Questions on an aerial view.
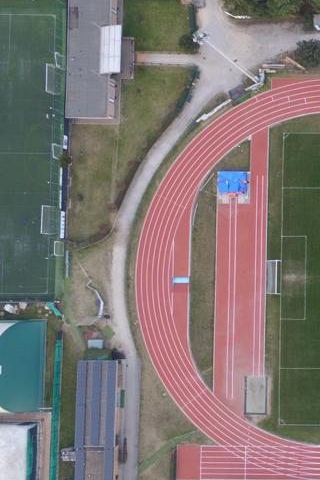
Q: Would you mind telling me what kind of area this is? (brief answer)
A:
sports ground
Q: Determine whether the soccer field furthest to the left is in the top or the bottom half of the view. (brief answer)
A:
top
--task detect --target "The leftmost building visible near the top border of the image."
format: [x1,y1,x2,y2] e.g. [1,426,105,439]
[65,0,119,121]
